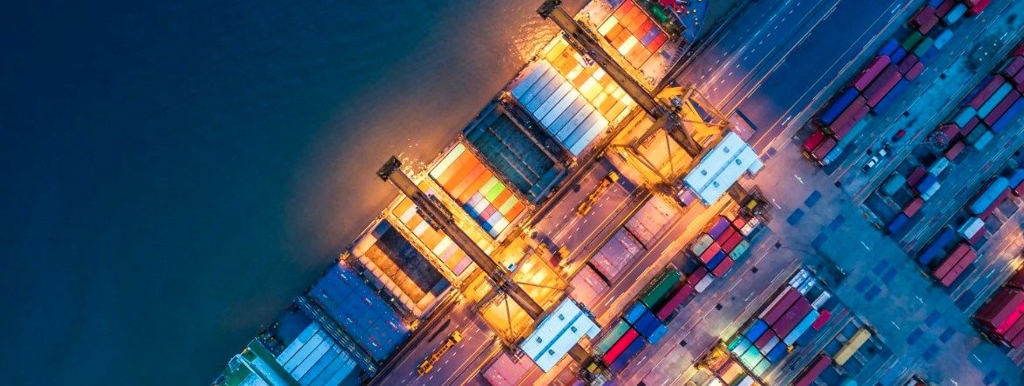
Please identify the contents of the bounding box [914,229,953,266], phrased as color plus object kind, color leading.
blue shipping container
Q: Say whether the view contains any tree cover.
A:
No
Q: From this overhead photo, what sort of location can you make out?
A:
port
